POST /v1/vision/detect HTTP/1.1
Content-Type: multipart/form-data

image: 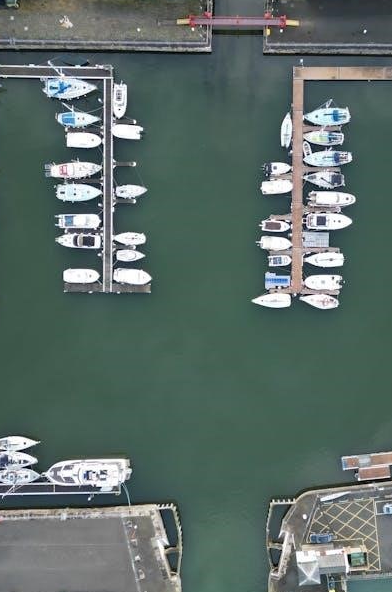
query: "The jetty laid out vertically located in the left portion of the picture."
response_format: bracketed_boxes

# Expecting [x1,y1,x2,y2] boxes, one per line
[63,78,151,296]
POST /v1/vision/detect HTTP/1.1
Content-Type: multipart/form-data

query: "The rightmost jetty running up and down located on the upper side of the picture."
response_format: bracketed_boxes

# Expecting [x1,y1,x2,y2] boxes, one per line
[268,80,340,296]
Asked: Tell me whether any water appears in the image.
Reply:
Yes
